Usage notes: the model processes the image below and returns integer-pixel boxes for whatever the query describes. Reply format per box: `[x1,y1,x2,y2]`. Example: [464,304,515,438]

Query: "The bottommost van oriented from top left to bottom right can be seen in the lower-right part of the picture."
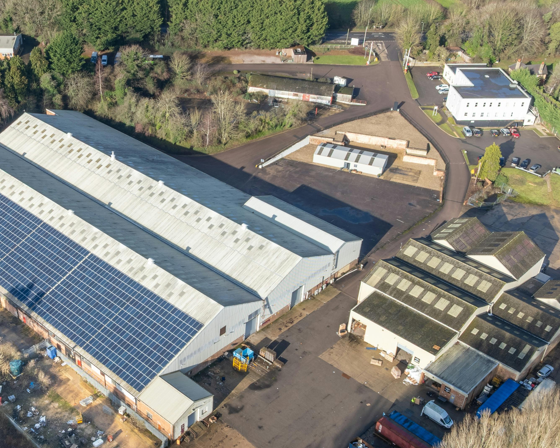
[418,394,457,426]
